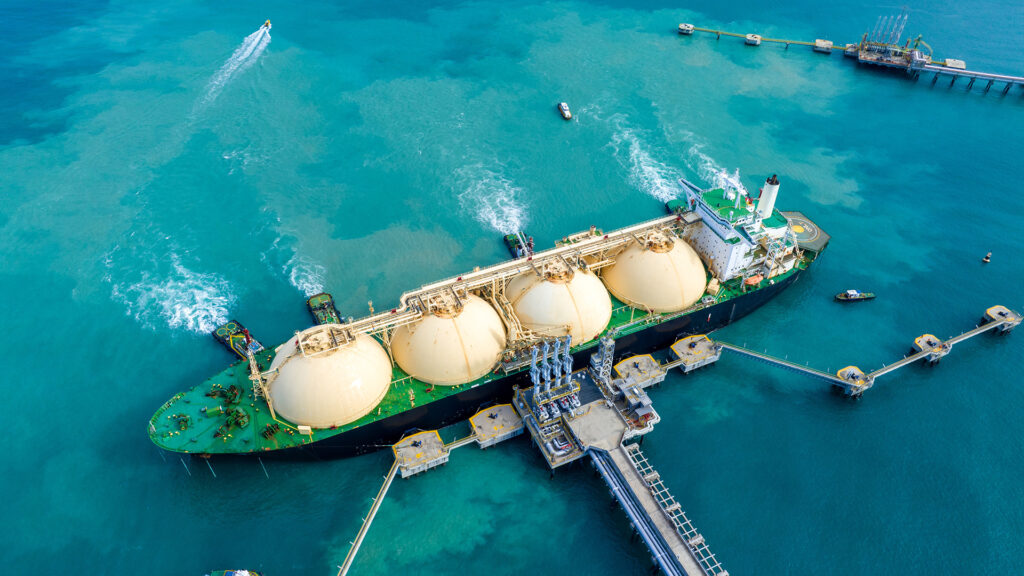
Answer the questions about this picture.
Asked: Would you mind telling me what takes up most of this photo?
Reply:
water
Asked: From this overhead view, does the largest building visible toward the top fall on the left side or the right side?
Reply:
right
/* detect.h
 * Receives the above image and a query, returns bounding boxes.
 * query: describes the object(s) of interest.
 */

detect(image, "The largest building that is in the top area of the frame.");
[909,50,933,78]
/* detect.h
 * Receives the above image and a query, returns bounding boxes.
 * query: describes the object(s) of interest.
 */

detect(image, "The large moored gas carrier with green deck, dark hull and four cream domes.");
[147,169,831,467]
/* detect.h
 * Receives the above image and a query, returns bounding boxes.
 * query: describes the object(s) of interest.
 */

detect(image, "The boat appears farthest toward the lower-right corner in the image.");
[835,288,877,301]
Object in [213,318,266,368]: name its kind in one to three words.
boat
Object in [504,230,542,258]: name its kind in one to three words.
boat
